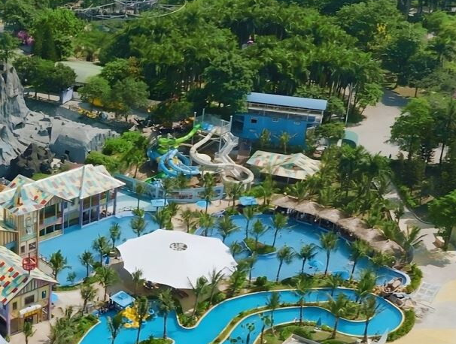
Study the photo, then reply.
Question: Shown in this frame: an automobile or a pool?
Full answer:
There is a pool in the scene.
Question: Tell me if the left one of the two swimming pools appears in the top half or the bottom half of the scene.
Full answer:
Seen from above, the left one of the two swimming pools lies in the bottom half of the view.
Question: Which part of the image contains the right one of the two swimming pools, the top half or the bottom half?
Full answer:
The right one of the two swimming pools is in the bottom half of the image.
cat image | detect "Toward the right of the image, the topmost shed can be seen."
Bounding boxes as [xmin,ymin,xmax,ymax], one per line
[234,92,334,154]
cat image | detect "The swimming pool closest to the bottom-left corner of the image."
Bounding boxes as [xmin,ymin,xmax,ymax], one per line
[38,213,157,286]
